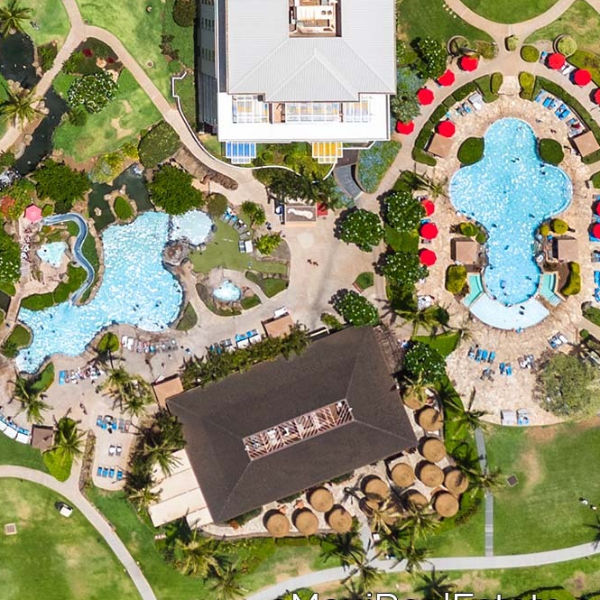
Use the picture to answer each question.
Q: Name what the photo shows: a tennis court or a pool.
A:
pool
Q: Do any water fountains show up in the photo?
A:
Yes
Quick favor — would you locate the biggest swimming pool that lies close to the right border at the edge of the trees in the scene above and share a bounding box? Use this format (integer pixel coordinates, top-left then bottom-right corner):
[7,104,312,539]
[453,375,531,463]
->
[447,115,575,333]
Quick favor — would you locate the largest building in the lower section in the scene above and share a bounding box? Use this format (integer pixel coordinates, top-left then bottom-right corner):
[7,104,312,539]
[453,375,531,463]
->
[166,323,418,524]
